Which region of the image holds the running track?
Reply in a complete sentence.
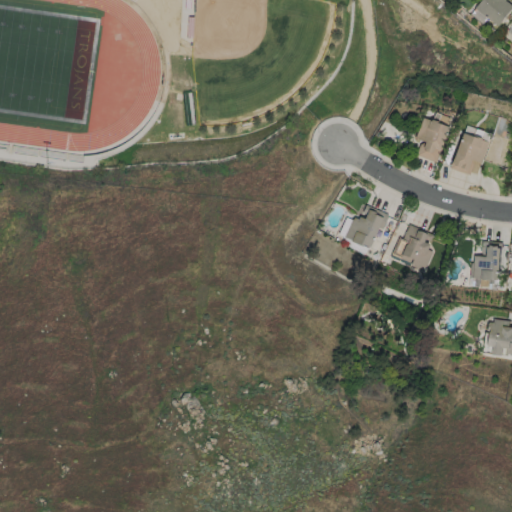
The running track is in the top left part of the image.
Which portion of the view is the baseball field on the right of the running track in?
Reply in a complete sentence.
Look in the top portion of the view to spot the baseball field on the right of the running track.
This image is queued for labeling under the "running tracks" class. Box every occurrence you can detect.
[0,0,161,154]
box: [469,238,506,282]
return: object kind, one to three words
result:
house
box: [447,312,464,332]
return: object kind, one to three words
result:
swimming pool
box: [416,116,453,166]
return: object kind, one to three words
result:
house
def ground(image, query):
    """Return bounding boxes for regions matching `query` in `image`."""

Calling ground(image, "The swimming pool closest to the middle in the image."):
[328,206,344,228]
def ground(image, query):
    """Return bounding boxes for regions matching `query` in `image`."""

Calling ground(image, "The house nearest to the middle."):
[346,206,390,249]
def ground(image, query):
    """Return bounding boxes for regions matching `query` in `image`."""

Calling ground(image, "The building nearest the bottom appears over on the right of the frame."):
[484,316,512,356]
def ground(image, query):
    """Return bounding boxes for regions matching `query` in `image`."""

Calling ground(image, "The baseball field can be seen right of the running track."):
[194,0,336,124]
